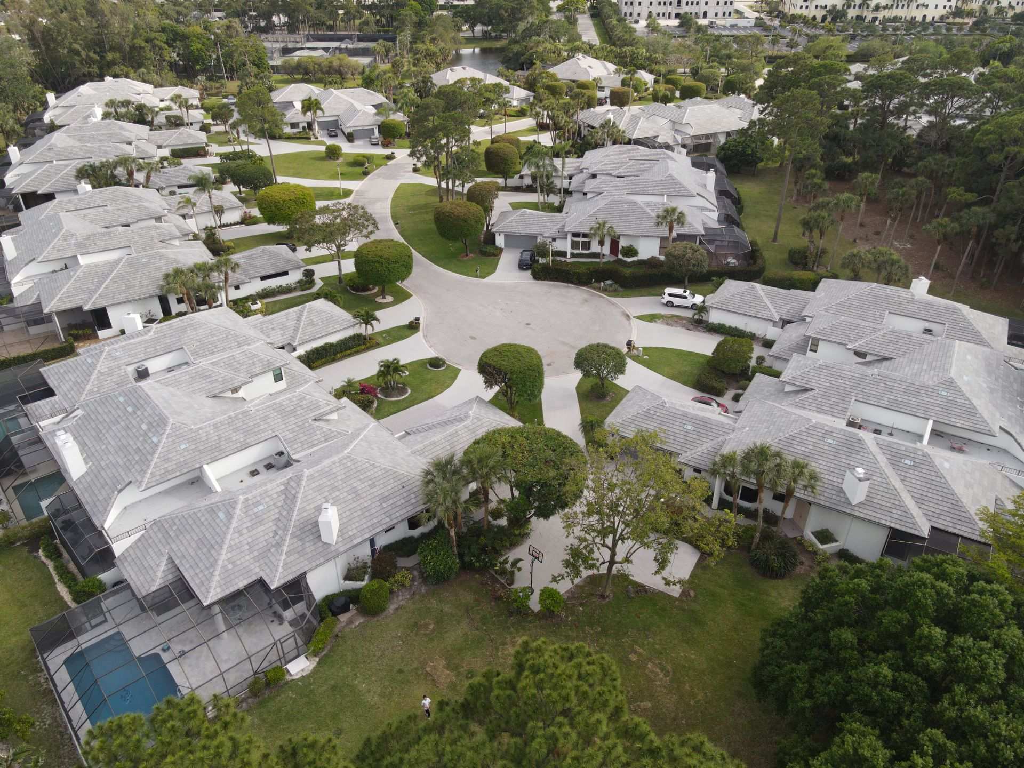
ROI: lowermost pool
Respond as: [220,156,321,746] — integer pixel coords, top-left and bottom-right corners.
[63,632,194,764]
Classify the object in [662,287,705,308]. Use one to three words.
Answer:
car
